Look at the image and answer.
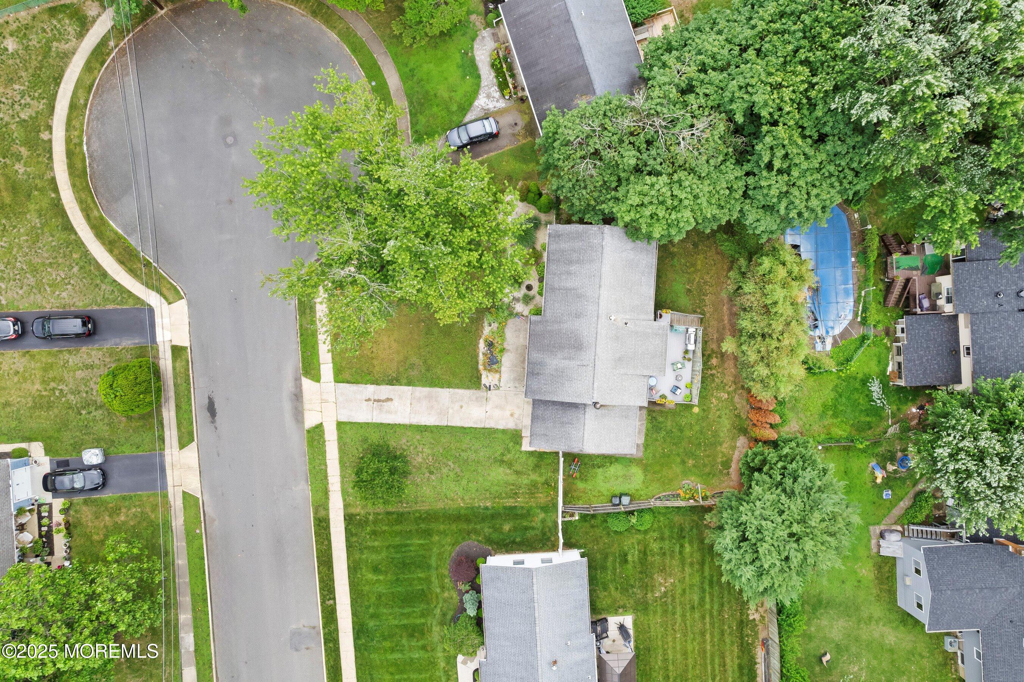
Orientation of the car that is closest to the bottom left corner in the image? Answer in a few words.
horizontally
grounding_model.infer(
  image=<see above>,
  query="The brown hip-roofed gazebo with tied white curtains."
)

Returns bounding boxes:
[598,642,639,682]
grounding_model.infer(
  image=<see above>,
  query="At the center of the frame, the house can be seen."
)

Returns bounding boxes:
[523,225,671,455]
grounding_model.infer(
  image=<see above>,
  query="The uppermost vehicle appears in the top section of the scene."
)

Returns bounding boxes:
[444,115,503,151]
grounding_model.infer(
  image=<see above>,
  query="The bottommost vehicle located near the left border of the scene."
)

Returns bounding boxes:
[40,466,110,496]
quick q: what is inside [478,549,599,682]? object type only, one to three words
house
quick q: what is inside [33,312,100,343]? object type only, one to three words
car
